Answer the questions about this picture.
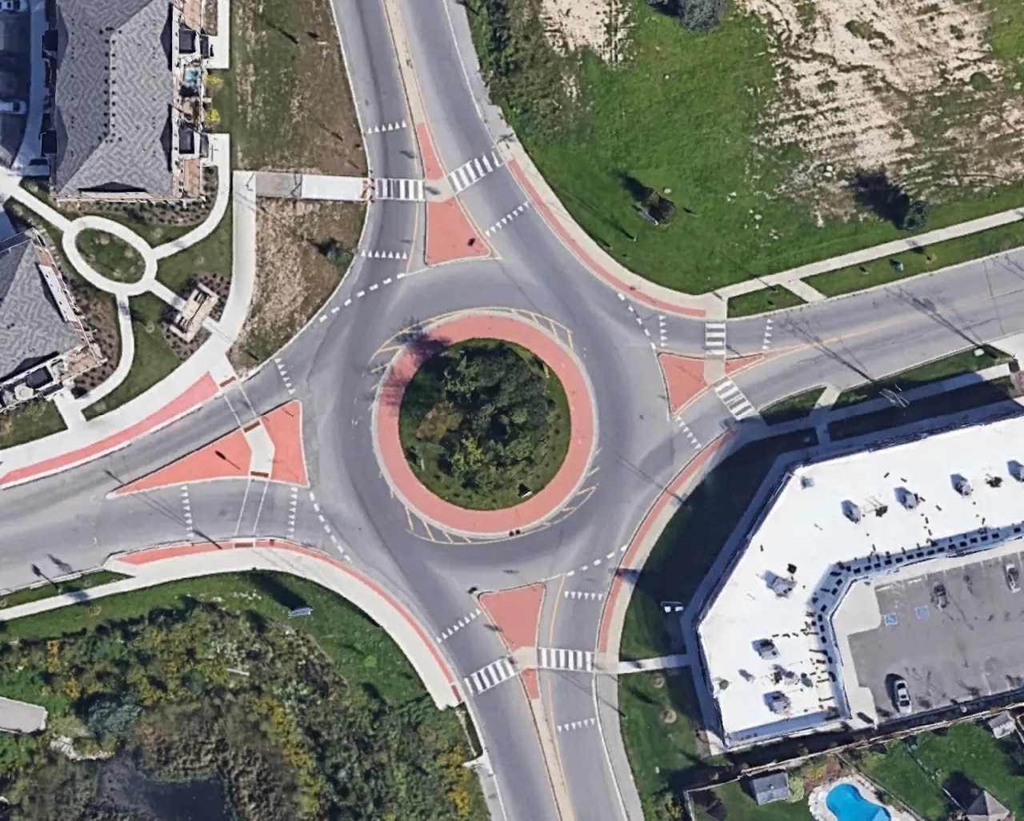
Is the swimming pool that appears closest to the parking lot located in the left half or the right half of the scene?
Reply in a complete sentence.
You can find the swimming pool that appears closest to the parking lot on the right side of the picture.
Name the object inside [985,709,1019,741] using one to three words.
shed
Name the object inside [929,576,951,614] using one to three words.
car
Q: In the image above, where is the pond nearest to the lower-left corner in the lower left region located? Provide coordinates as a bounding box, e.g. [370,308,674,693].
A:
[130,775,234,821]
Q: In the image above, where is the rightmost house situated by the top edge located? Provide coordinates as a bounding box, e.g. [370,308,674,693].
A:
[44,0,223,207]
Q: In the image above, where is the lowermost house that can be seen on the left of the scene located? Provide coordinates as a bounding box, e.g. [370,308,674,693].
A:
[0,235,111,415]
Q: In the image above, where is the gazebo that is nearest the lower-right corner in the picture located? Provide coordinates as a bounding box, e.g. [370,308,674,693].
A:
[961,787,1011,821]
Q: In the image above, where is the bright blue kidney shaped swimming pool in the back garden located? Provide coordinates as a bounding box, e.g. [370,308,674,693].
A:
[810,774,907,821]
